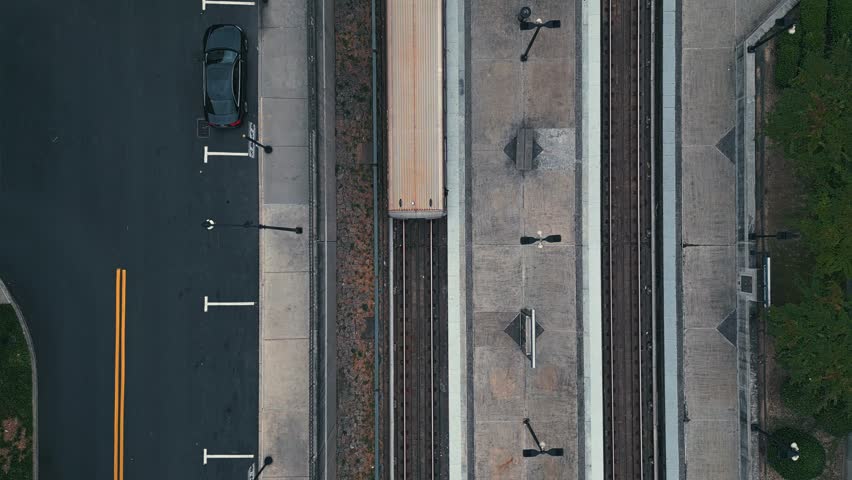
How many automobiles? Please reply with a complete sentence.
The photo contains exactly 1 automobile.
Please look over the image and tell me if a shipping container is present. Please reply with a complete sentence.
No, no shipping container is visible in the view.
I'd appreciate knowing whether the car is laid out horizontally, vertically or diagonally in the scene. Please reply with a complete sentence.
Seen from above, the car lies vertically.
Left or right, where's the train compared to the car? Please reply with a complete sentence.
From the viewer's perspective, the train falls to the right of the car.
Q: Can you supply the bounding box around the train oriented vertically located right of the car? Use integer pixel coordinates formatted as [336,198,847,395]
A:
[384,0,451,228]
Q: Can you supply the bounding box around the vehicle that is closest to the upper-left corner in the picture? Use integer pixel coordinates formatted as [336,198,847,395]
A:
[200,25,249,130]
